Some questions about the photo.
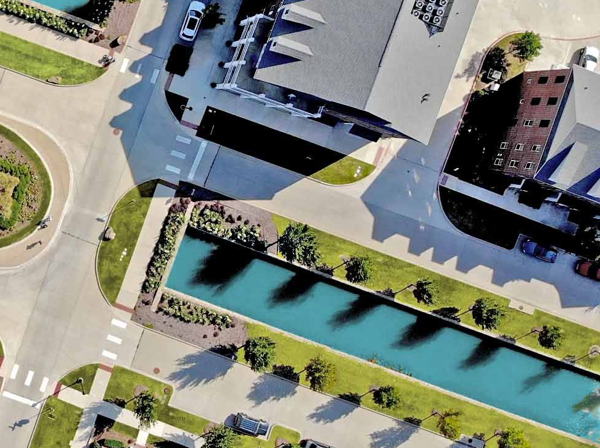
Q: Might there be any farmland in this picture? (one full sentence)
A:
No, farmland can't be seen anywhere here.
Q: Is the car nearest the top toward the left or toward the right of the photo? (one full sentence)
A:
You can find the car nearest the top on the left side of the picture.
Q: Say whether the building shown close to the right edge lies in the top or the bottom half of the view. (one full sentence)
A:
You can find the building shown close to the right edge in the top half.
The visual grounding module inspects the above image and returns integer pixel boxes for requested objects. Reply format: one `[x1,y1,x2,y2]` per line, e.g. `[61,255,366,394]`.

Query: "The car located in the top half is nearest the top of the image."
[178,0,205,44]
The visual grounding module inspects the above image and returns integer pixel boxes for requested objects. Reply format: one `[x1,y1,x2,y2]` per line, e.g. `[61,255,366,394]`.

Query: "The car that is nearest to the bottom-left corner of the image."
[230,410,272,438]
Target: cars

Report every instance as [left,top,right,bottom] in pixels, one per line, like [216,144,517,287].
[517,238,561,264]
[572,257,600,280]
[577,39,600,71]
[178,0,205,44]
[230,410,272,438]
[304,436,340,448]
